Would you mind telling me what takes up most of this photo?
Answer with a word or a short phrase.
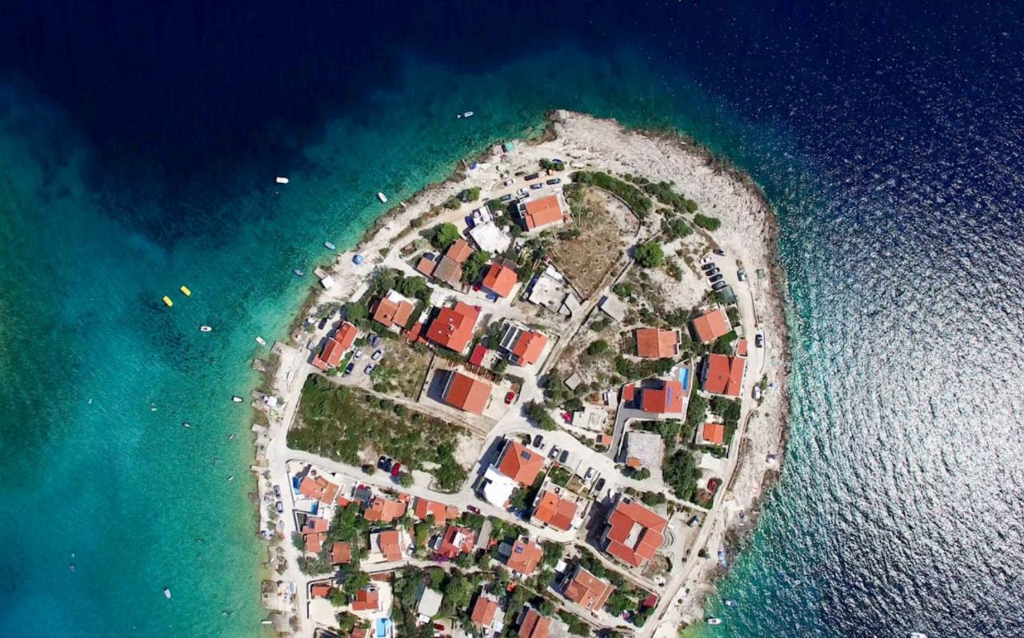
water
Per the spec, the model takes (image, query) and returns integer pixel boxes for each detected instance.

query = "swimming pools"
[292,476,302,496]
[376,617,387,638]
[677,368,690,391]
[310,501,319,515]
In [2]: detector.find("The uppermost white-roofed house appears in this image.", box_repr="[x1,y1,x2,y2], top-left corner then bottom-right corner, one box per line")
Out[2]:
[470,206,511,255]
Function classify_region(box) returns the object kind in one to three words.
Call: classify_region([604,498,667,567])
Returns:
building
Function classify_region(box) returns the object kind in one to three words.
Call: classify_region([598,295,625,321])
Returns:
shed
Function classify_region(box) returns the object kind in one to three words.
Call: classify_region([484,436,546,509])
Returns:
house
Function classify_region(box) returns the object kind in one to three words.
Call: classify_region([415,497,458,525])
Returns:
house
